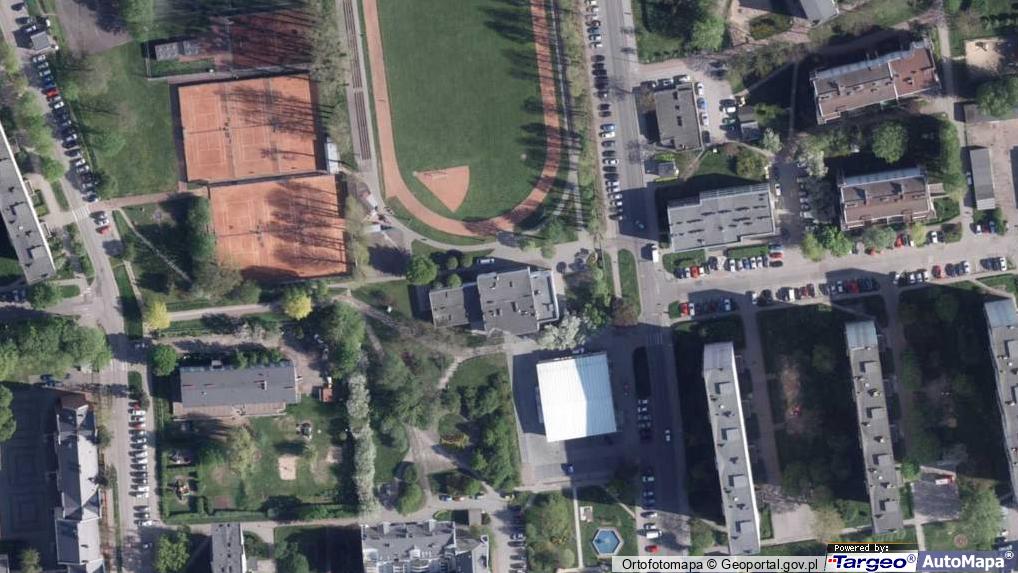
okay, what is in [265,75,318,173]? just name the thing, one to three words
tennis court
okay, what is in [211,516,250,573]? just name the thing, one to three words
building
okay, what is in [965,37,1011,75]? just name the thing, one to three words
playground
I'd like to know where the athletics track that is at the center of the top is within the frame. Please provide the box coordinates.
[362,0,561,237]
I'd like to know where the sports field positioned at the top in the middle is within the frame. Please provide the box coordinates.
[379,0,546,220]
